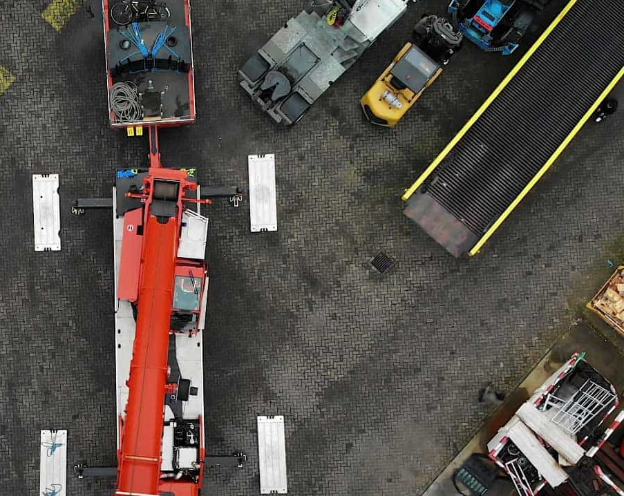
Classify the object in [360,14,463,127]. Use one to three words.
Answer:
work vehicle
